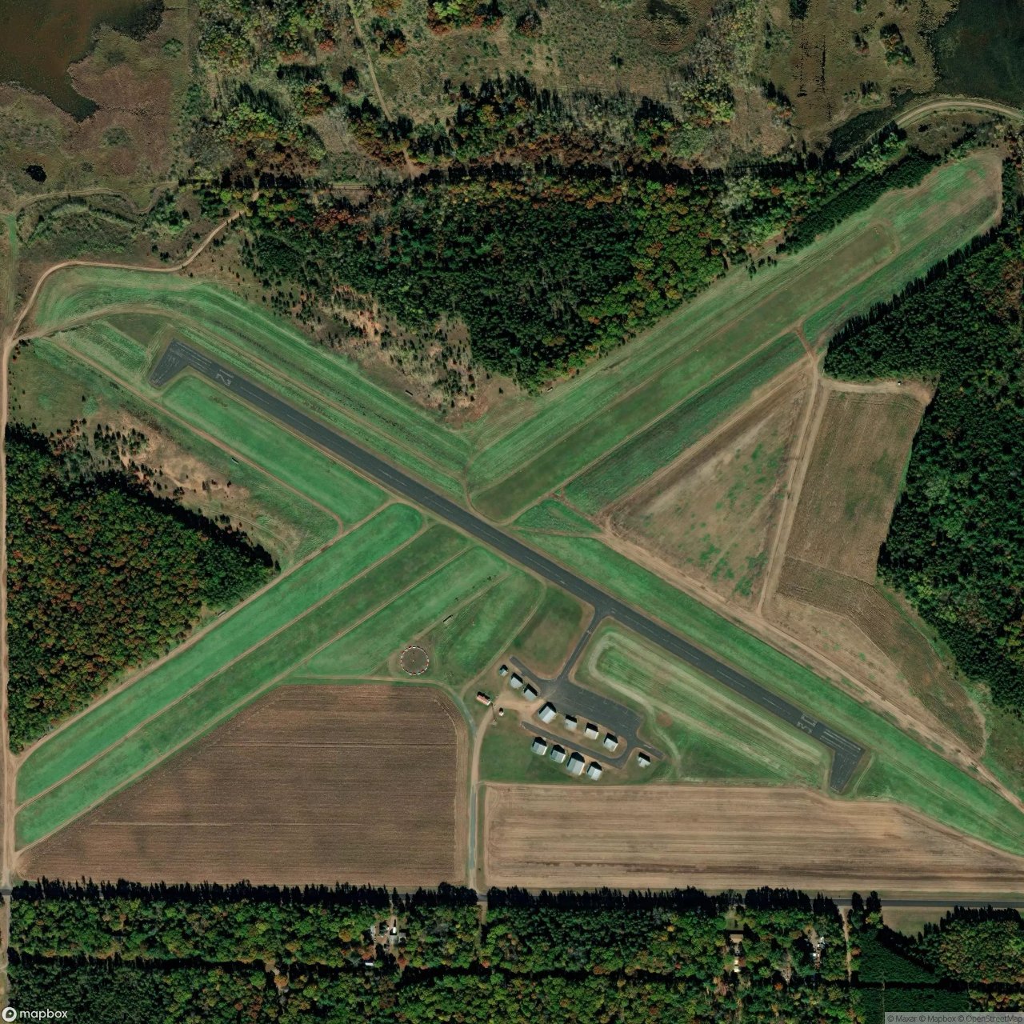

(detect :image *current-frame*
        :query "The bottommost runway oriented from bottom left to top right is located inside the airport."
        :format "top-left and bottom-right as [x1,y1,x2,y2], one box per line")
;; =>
[18,525,471,848]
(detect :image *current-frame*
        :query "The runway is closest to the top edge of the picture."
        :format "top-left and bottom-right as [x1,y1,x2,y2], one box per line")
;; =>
[476,226,895,519]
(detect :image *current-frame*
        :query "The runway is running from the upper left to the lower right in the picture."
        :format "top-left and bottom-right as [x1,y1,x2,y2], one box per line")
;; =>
[150,338,865,793]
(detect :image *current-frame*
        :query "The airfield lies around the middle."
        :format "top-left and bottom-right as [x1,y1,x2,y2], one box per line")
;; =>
[18,226,895,848]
